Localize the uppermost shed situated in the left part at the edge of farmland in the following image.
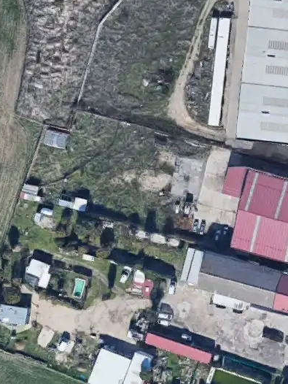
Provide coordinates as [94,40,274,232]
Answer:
[43,127,72,150]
